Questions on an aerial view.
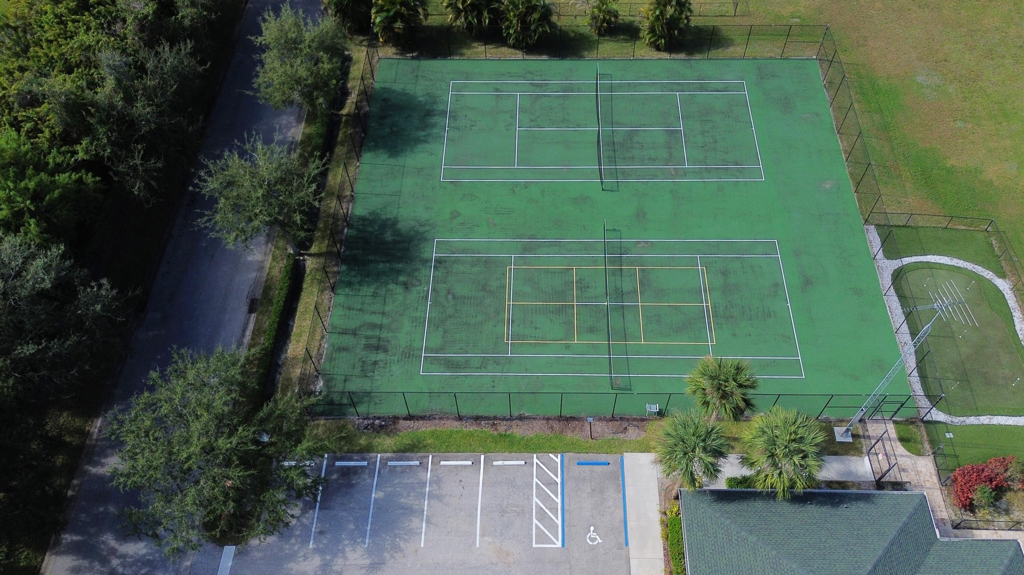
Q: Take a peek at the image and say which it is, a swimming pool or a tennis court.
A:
tennis court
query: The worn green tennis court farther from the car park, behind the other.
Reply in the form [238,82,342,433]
[351,57,861,209]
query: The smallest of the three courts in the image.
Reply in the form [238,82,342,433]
[504,266,717,344]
